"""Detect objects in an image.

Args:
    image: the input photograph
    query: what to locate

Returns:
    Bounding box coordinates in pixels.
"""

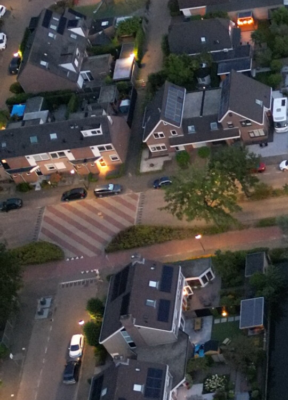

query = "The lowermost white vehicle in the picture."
[69,334,84,360]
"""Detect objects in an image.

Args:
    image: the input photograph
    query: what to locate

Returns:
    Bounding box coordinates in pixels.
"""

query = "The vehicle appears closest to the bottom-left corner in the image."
[62,358,81,387]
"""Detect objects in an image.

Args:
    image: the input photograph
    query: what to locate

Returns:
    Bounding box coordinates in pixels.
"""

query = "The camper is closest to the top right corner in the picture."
[273,97,288,131]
